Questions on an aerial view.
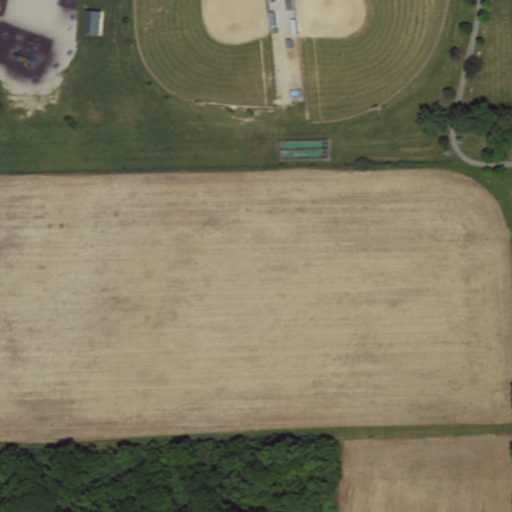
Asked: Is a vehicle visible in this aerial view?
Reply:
No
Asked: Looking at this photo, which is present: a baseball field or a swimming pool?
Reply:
baseball field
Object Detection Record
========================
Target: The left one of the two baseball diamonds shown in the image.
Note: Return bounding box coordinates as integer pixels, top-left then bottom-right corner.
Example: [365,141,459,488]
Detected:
[132,0,276,108]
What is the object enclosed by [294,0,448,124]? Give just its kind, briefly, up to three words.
baseball field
